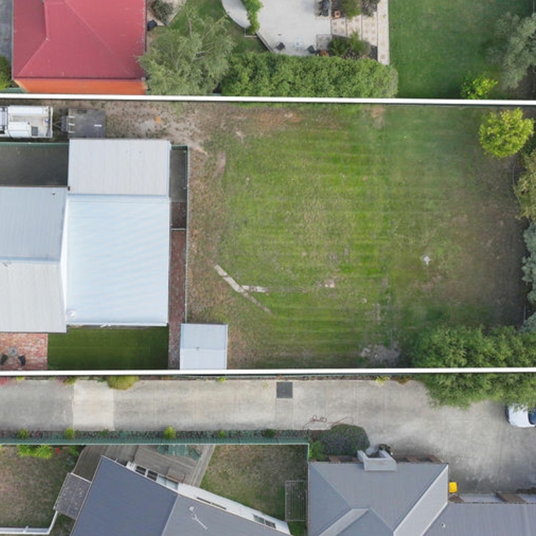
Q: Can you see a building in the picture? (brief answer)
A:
Yes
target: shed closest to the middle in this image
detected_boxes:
[181,323,229,370]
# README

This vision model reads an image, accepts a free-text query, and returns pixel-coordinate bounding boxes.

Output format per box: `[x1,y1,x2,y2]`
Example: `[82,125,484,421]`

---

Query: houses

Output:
[54,450,292,536]
[306,449,536,536]
[0,184,173,334]
[12,0,150,94]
